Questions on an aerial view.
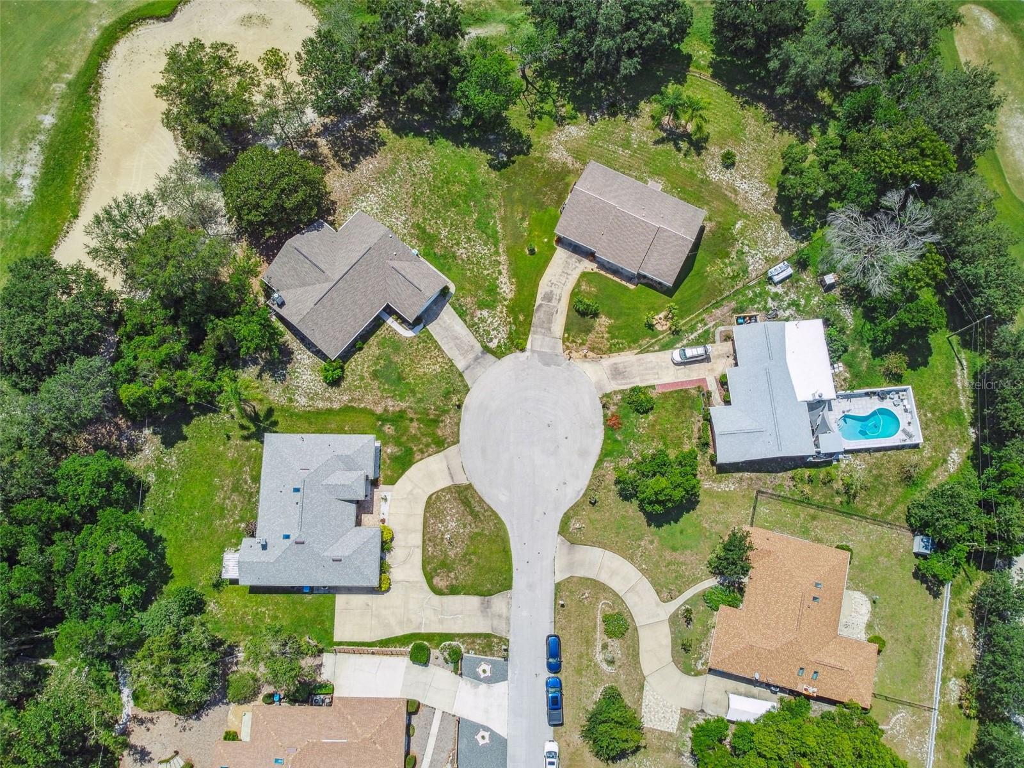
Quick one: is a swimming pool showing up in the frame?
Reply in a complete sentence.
Yes, the photo shows a swimming pool.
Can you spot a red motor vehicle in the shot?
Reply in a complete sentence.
No, there's no red motor vehicle here.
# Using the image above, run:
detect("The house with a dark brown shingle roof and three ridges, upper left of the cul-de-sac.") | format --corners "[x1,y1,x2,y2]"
[261,211,451,361]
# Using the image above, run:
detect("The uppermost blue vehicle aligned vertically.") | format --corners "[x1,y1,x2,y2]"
[545,634,564,673]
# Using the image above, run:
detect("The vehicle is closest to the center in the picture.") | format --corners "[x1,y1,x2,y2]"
[670,342,717,364]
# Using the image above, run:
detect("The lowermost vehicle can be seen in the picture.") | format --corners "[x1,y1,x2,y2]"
[542,740,562,768]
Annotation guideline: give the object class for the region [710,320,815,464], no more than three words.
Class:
house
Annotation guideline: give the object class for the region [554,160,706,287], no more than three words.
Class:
house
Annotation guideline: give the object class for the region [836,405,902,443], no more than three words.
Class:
swimming pool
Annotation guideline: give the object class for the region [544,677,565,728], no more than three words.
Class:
truck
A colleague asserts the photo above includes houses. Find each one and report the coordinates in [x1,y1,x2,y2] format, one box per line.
[710,320,815,464]
[261,211,451,361]
[213,696,407,768]
[708,528,878,709]
[238,434,381,587]
[554,160,706,287]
